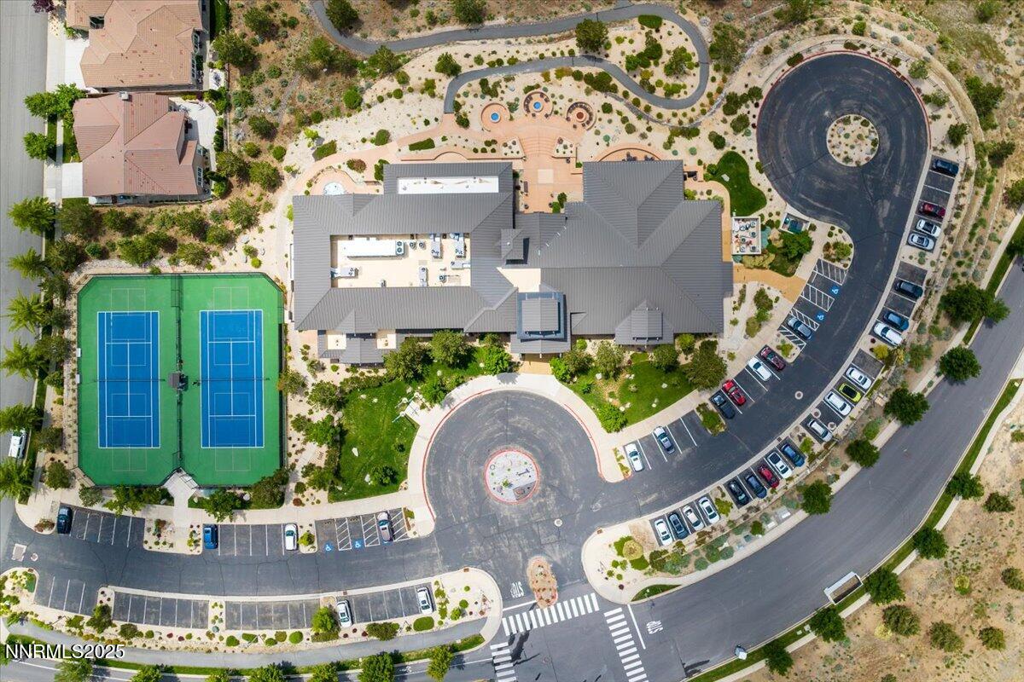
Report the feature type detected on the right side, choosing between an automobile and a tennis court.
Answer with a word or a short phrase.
automobile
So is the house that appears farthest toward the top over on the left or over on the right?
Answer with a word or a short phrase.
left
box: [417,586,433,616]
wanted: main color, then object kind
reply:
white car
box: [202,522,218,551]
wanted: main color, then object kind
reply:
blue car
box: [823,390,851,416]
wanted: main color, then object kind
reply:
white car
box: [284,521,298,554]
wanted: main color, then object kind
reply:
white vehicle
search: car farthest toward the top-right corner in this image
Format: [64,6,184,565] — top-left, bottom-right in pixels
[929,158,960,176]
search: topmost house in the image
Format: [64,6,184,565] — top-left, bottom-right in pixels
[67,0,207,88]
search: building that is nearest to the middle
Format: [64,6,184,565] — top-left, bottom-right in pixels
[293,160,733,363]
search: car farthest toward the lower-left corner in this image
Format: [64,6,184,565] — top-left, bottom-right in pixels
[55,505,74,535]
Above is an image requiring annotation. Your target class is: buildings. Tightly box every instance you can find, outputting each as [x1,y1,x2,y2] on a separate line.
[293,160,733,363]
[73,90,202,196]
[67,0,207,88]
